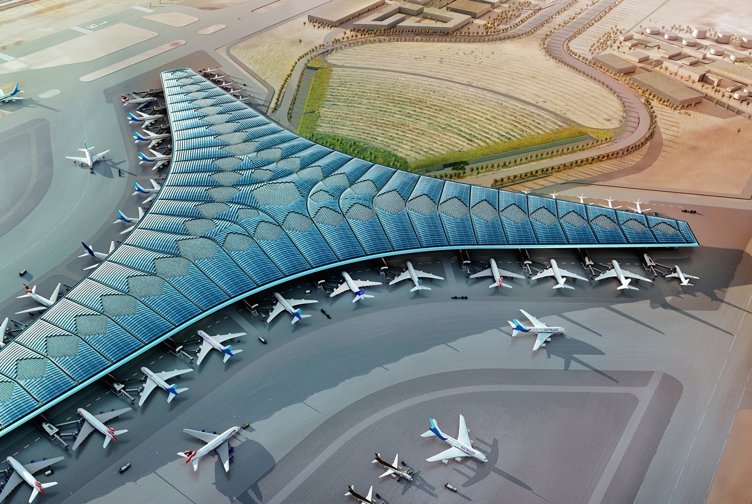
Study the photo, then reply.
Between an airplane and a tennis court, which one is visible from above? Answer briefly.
airplane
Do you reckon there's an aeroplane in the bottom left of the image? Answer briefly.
Yes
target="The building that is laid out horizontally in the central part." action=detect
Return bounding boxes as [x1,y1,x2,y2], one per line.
[0,65,706,433]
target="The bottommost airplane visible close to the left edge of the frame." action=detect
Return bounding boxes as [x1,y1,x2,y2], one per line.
[1,459,65,504]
